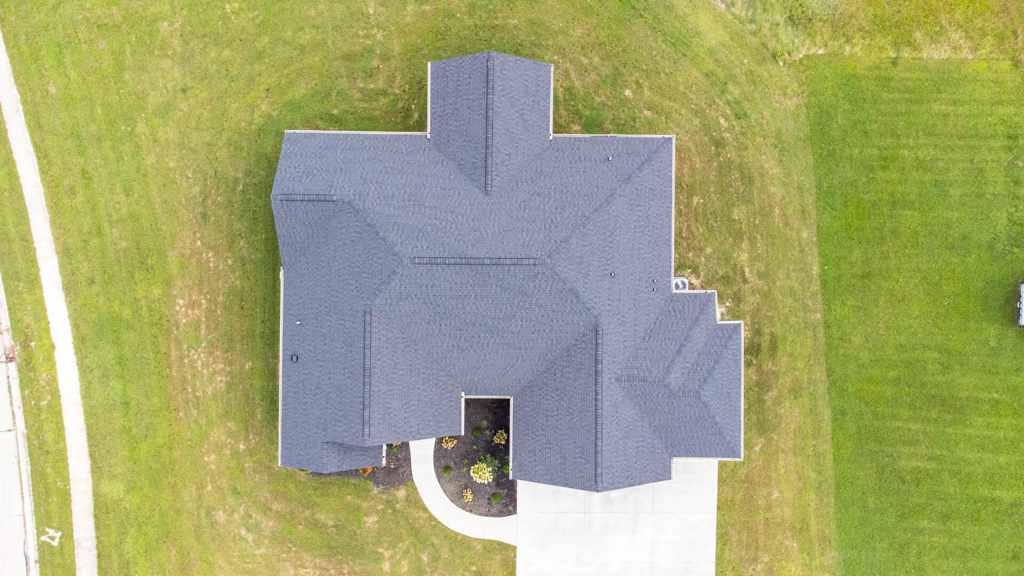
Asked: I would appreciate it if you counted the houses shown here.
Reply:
one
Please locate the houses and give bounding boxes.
[270,51,745,493]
